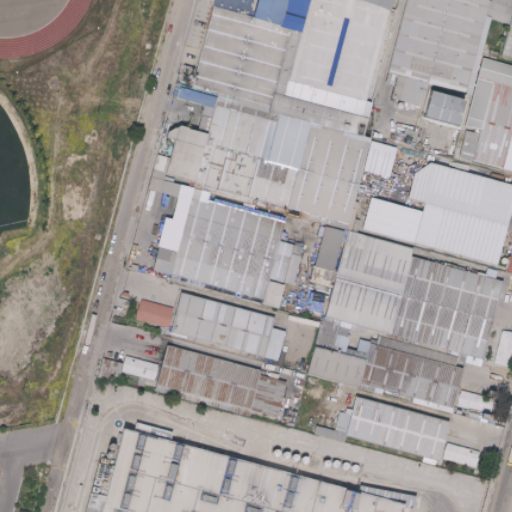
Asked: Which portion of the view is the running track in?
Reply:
top left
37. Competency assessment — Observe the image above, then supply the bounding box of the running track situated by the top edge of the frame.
[0,0,90,58]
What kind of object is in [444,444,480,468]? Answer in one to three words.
house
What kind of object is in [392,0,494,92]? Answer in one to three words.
building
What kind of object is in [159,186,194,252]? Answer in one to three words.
building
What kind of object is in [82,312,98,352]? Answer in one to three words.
vehicle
